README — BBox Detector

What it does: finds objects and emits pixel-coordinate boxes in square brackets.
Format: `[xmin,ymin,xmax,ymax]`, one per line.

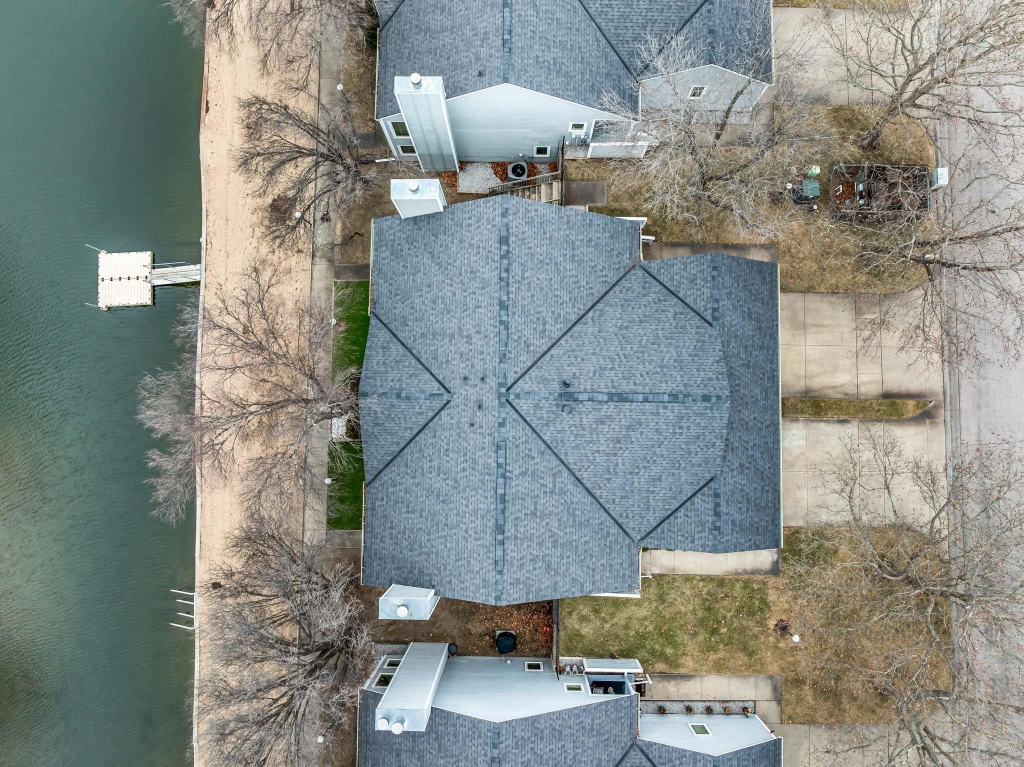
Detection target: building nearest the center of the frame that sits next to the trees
[358,173,782,629]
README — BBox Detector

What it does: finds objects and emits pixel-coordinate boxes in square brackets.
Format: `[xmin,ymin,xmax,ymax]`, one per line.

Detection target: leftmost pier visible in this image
[82,242,157,311]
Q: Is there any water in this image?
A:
Yes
